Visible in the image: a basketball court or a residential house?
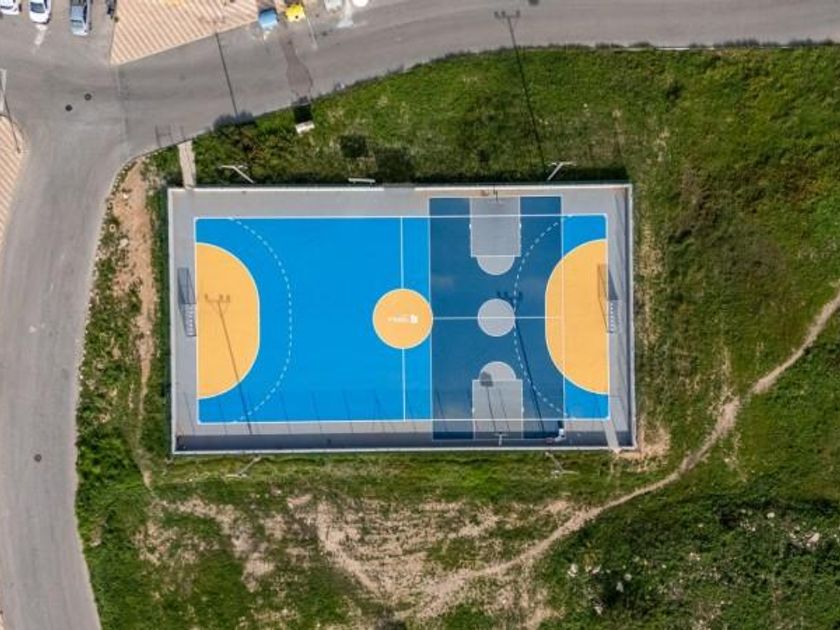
basketball court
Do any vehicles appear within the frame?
Yes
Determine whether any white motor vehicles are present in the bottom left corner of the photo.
No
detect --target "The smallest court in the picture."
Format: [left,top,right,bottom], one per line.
[430,196,564,441]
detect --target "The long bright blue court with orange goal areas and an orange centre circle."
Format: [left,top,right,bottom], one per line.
[195,215,610,424]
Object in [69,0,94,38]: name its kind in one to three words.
truck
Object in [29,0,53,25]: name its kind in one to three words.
car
